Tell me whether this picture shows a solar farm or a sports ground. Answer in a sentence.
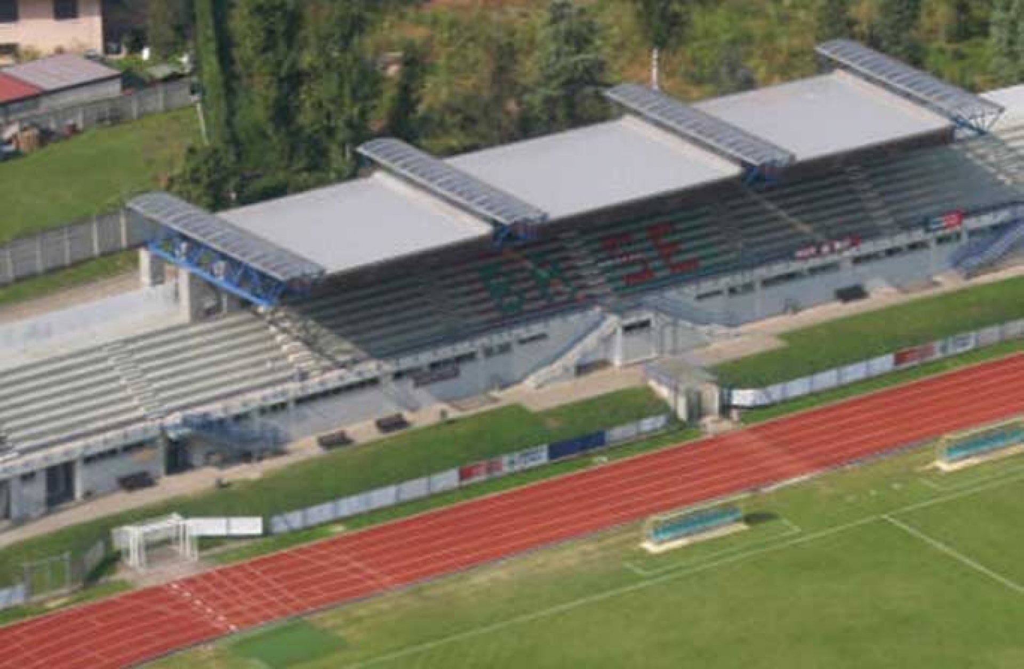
The picture captures a sports ground.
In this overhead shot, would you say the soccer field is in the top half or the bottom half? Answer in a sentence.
The soccer field is in the bottom half of the image.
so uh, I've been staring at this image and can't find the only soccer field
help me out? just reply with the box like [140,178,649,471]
[117,417,1024,669]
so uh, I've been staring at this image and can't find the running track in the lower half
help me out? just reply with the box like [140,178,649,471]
[0,353,1024,669]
